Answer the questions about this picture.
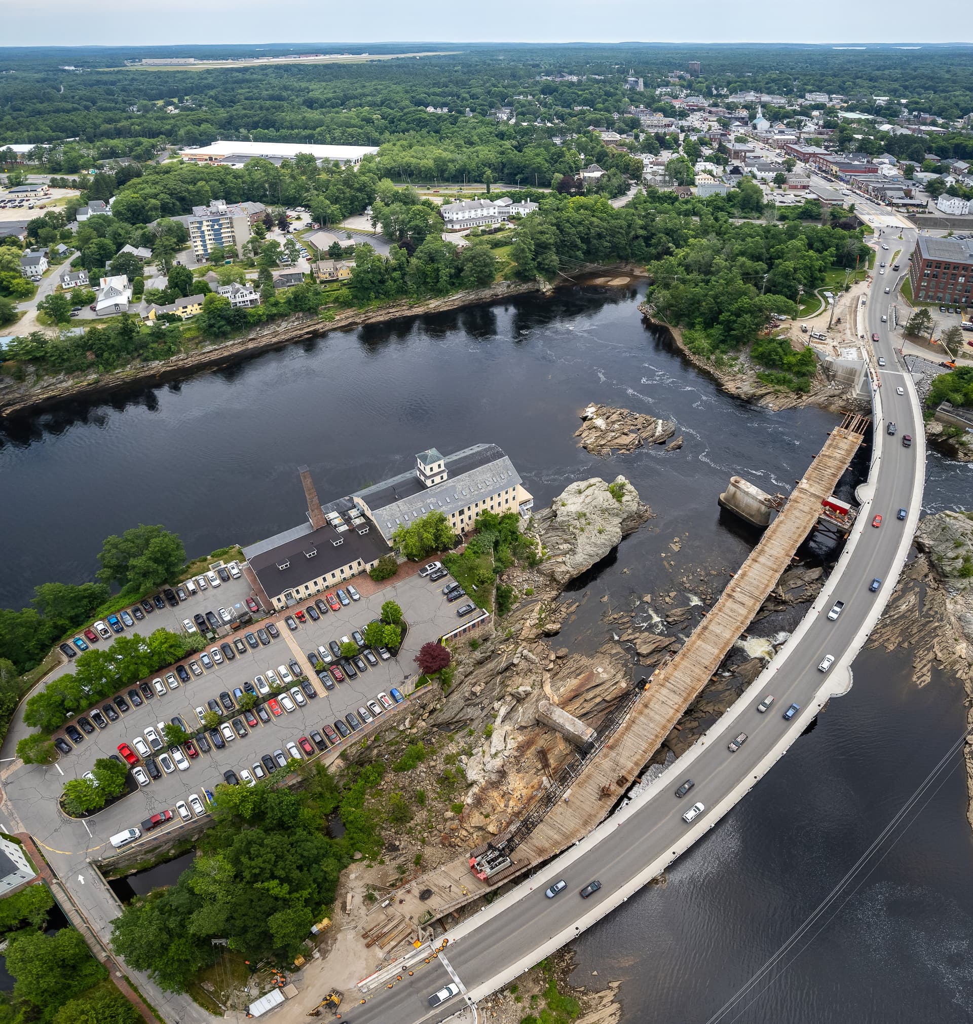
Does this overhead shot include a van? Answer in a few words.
Yes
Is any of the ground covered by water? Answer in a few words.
Yes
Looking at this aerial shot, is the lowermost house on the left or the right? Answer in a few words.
left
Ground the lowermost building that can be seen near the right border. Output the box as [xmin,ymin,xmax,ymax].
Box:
[907,219,973,308]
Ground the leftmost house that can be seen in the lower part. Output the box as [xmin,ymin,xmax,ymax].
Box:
[0,789,47,891]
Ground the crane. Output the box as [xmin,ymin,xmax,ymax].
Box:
[464,679,644,894]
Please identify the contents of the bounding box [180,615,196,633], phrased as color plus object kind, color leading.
white car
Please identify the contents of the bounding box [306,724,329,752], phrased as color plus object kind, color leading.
gray truck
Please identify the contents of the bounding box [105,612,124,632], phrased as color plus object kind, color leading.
blue vehicle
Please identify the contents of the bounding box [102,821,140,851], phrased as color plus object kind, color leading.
white van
